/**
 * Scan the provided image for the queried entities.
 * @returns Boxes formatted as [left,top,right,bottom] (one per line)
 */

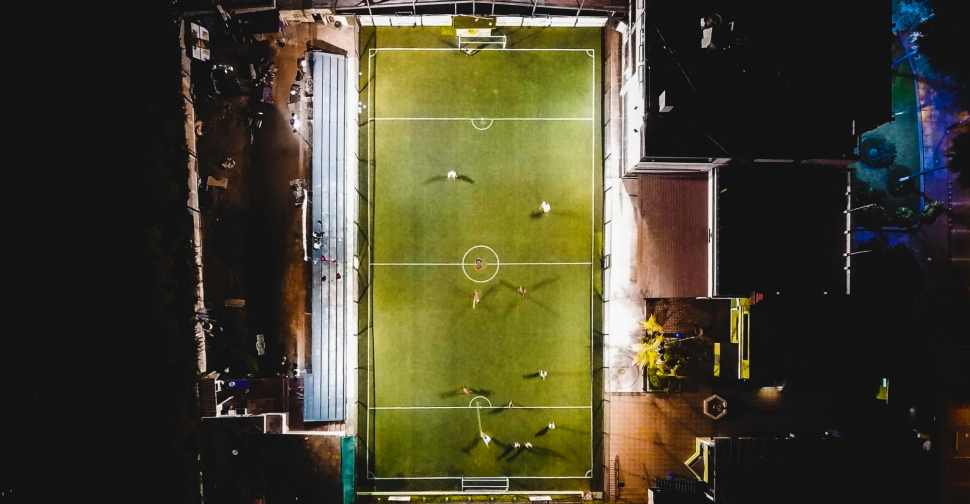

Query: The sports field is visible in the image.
[359,27,603,492]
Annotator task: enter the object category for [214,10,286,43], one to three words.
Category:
shed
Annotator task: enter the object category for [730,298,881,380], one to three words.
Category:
house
